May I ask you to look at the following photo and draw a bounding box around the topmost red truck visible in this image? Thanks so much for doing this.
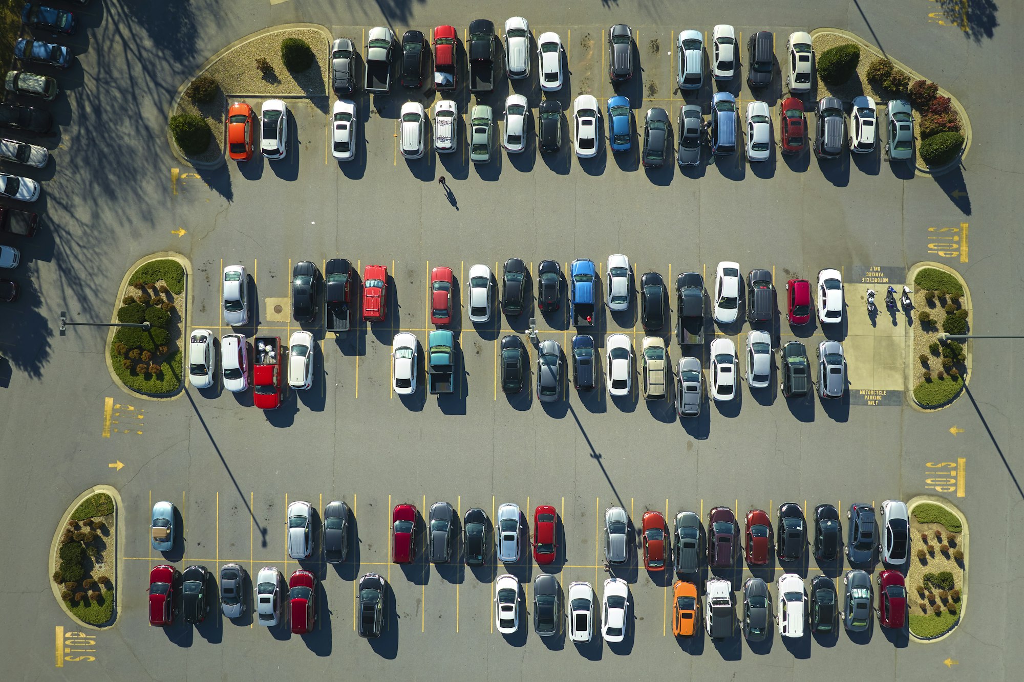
[430,24,459,94]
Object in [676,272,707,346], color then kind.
black truck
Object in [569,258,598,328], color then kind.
blue truck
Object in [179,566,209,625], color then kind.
black car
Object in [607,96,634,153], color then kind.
blue car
